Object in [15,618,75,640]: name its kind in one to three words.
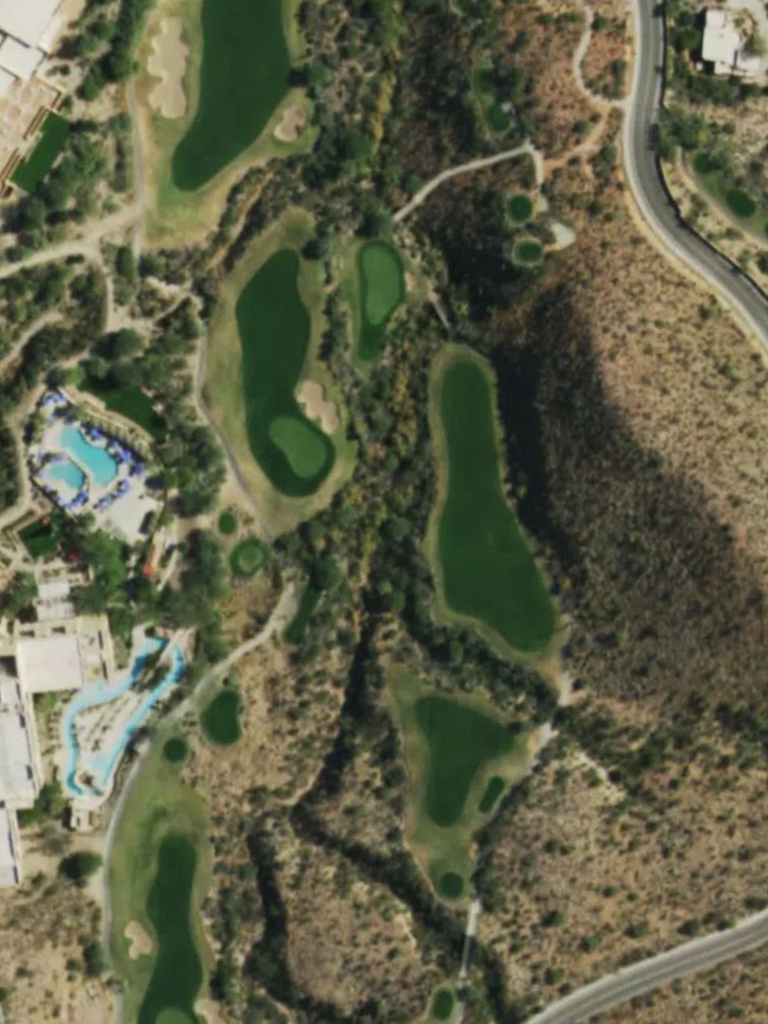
building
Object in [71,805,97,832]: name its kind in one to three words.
house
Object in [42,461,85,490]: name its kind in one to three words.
swimming pool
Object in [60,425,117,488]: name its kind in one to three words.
swimming pool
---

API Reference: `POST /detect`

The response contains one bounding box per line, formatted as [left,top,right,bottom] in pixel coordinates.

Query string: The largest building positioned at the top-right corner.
[702,9,740,74]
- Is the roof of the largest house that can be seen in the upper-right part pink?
No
